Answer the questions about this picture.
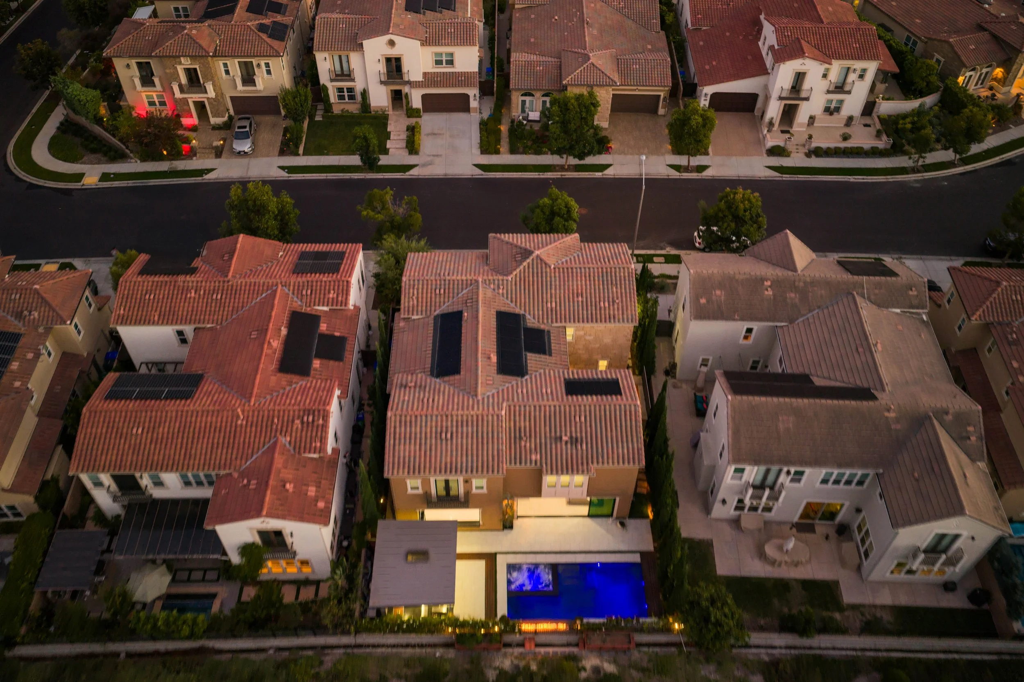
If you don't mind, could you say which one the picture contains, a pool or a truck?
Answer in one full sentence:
It is a pool that can be seen here.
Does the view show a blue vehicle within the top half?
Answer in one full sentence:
No, the scene shows no blue vehicle within the top half.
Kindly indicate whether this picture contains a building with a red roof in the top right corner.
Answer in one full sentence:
Yes, I can see a building with a red roof in the top right corner.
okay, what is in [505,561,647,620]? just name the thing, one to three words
swimming pool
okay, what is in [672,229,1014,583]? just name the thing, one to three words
house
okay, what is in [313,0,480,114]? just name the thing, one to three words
house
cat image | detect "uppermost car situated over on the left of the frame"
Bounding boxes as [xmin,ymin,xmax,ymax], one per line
[229,112,254,149]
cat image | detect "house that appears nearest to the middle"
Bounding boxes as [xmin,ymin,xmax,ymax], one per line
[382,232,646,529]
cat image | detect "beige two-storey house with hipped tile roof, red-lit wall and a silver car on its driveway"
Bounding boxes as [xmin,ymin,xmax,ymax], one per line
[102,0,323,120]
